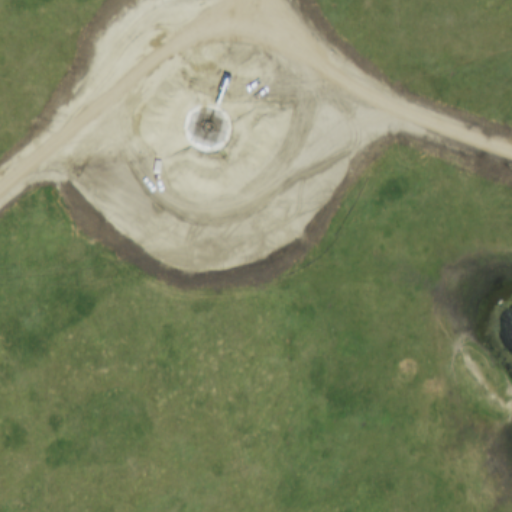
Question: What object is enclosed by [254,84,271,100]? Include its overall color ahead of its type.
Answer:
white vehicle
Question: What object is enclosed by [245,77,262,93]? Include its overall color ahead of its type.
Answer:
white vehicle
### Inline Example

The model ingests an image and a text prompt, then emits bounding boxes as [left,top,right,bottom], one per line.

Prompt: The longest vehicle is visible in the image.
[214,71,232,106]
